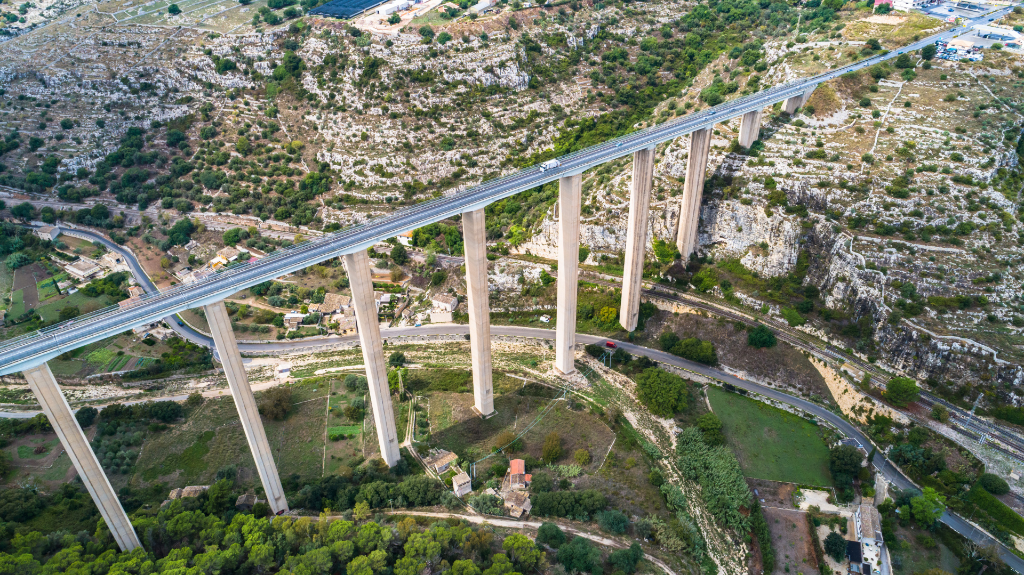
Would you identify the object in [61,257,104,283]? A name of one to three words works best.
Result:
house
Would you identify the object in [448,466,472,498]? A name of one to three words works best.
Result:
house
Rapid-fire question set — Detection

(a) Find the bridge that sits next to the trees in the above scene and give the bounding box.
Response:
[0,70,828,564]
